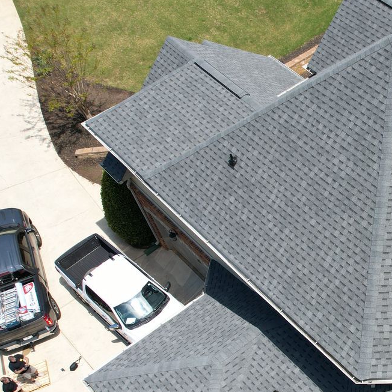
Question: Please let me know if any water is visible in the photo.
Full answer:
No, there's no water in this view.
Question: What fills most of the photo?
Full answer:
What you mostly see from above here is buildings.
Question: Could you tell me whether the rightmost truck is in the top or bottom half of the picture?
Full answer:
Seen from above, the rightmost truck lies in the bottom half of the view.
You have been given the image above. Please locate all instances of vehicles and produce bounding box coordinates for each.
[0,208,68,369]
[54,235,180,346]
